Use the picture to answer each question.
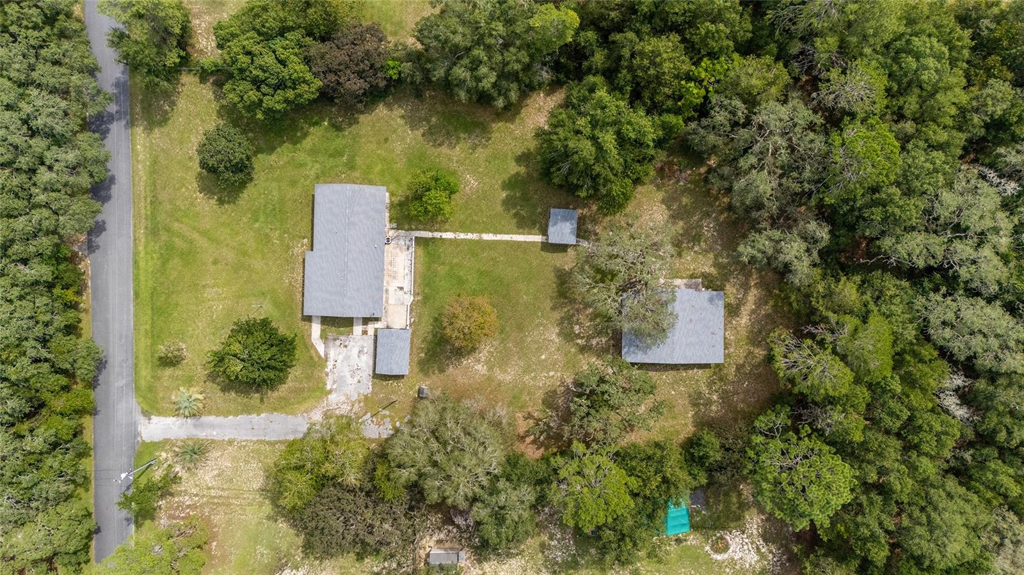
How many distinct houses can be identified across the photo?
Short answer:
2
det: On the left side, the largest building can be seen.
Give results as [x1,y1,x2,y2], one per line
[302,184,386,318]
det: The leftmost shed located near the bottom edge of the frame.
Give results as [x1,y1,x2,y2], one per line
[430,545,461,567]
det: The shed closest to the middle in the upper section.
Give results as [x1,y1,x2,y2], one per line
[549,209,577,244]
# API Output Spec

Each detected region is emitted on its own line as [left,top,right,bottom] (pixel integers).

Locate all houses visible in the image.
[302,184,386,318]
[622,291,724,364]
